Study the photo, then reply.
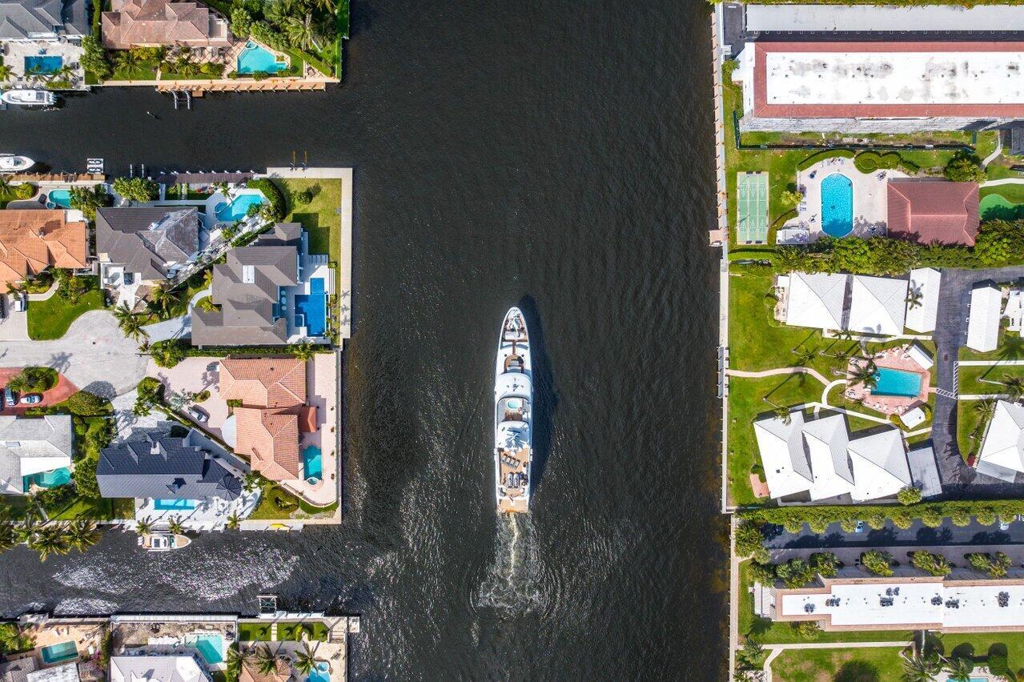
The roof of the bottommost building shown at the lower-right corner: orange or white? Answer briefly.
white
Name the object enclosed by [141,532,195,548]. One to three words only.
boat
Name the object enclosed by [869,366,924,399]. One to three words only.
swimming pool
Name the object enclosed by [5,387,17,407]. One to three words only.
vehicle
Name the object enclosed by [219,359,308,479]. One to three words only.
house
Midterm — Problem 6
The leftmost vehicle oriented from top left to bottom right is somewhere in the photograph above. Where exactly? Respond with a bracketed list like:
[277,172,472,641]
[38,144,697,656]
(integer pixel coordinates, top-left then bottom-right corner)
[187,406,208,422]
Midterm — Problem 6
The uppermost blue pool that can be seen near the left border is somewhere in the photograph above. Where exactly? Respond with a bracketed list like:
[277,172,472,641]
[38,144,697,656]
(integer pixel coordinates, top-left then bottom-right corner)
[23,54,63,75]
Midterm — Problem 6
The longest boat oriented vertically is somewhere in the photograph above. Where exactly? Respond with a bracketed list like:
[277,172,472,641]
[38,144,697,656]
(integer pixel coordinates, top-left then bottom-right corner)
[493,308,534,513]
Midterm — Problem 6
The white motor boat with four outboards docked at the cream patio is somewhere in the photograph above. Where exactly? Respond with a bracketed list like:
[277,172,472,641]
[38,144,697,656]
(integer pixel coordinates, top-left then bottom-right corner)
[3,91,59,107]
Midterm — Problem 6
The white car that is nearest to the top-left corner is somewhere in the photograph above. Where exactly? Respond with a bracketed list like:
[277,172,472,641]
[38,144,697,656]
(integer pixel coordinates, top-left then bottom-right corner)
[15,291,27,314]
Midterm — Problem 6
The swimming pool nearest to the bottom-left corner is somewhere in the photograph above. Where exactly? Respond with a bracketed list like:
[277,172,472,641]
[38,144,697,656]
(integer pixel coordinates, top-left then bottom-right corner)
[40,640,80,665]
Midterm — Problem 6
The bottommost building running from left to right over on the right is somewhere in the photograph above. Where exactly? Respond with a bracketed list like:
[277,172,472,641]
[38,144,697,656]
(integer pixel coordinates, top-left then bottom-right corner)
[753,572,1024,633]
